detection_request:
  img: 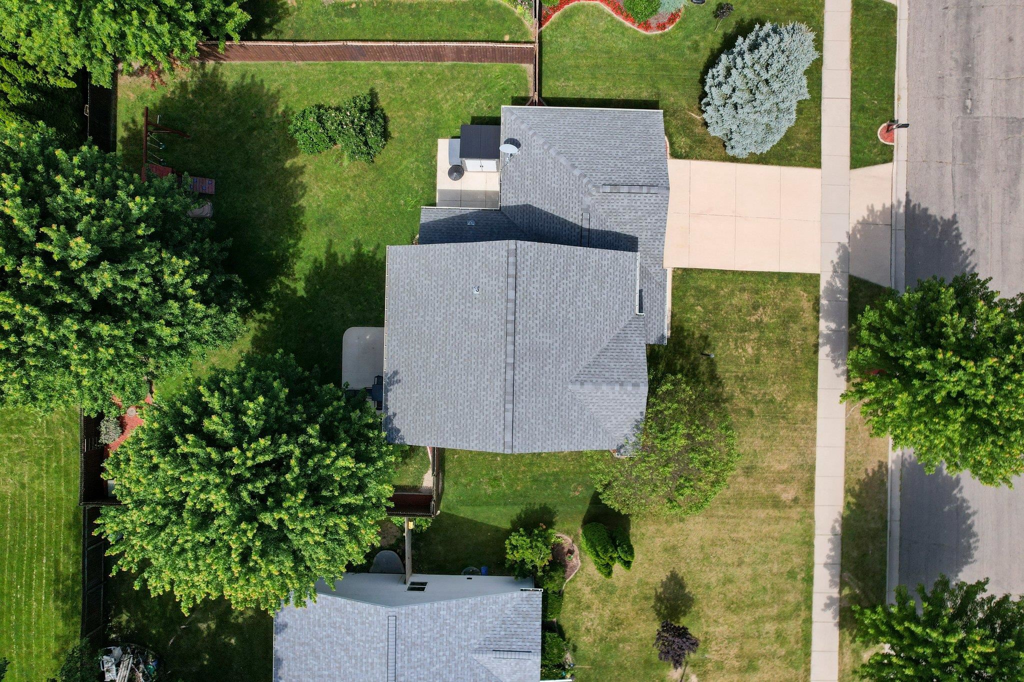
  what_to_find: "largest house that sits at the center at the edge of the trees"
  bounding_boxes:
[381,103,671,458]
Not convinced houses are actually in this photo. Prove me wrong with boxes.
[381,103,671,458]
[270,575,544,682]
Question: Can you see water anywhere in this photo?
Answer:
No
